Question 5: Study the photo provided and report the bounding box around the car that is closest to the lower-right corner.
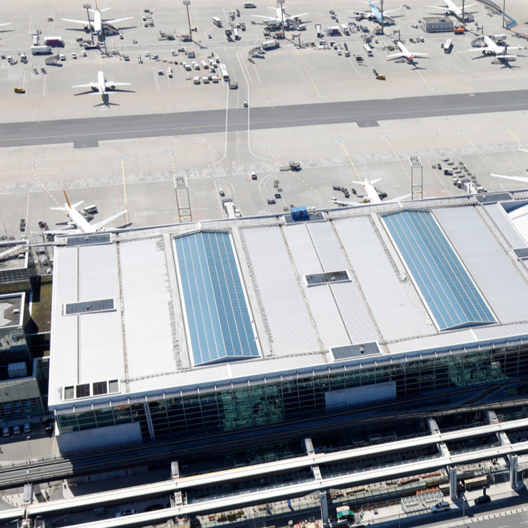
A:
[472,491,493,504]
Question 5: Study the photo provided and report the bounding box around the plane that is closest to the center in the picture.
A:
[324,157,420,202]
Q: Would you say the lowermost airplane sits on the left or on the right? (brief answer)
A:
left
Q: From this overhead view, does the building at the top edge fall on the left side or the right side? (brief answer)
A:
right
